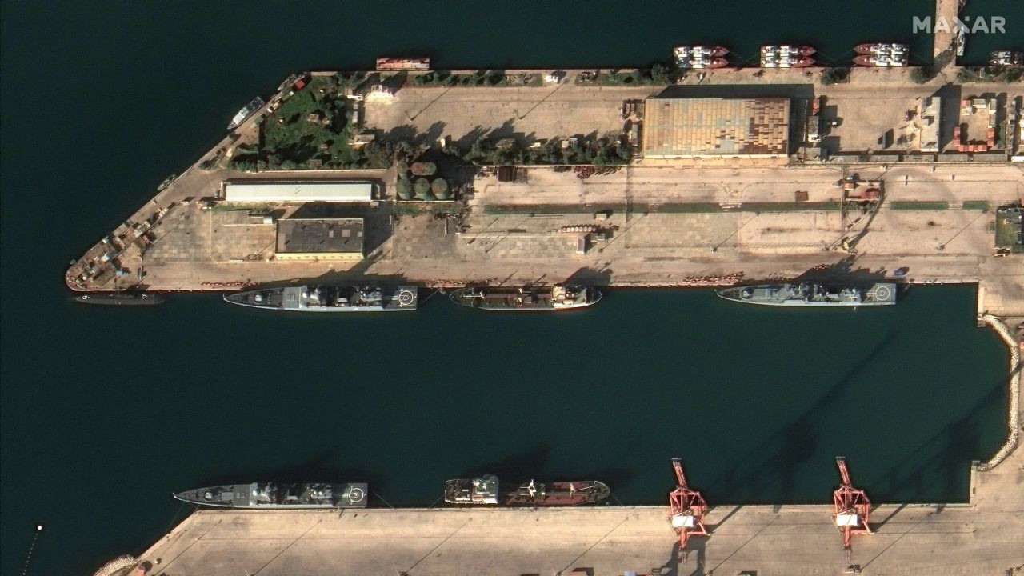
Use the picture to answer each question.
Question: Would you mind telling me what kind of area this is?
port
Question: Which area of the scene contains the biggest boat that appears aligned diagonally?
top left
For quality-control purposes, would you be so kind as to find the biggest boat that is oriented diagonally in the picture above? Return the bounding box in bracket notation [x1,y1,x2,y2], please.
[228,97,265,129]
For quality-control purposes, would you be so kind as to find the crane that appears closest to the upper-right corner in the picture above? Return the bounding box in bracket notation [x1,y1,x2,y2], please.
[839,191,876,257]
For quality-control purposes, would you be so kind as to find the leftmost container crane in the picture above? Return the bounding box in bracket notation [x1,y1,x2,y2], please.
[671,463,710,566]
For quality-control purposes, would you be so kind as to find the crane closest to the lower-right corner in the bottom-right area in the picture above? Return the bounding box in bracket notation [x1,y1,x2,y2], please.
[835,462,874,565]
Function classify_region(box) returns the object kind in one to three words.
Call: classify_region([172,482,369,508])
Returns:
ship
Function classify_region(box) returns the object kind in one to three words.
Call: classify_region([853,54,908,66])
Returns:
boat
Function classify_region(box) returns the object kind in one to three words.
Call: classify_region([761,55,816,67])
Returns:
boat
